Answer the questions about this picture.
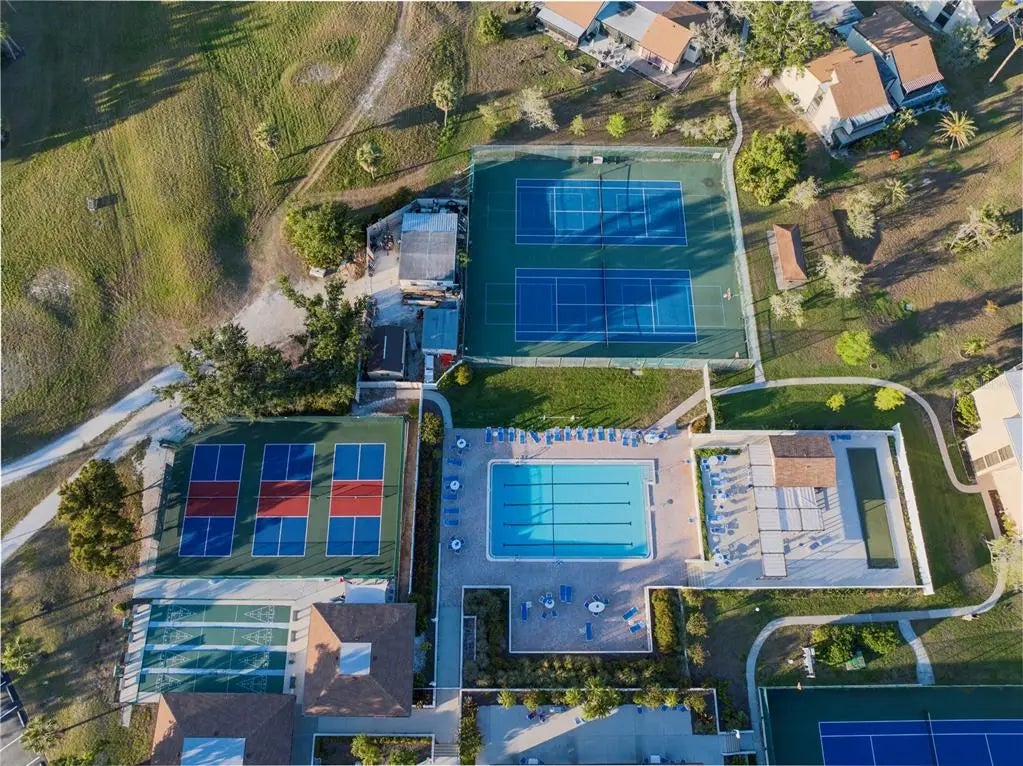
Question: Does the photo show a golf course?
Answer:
No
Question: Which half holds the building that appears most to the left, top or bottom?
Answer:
bottom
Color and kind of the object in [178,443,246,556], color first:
blue sports court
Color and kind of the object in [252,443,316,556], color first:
blue sports court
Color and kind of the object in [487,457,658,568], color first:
blue swimming pool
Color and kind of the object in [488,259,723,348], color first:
blue tennis court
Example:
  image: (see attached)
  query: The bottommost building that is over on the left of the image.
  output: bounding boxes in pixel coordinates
[149,692,297,766]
